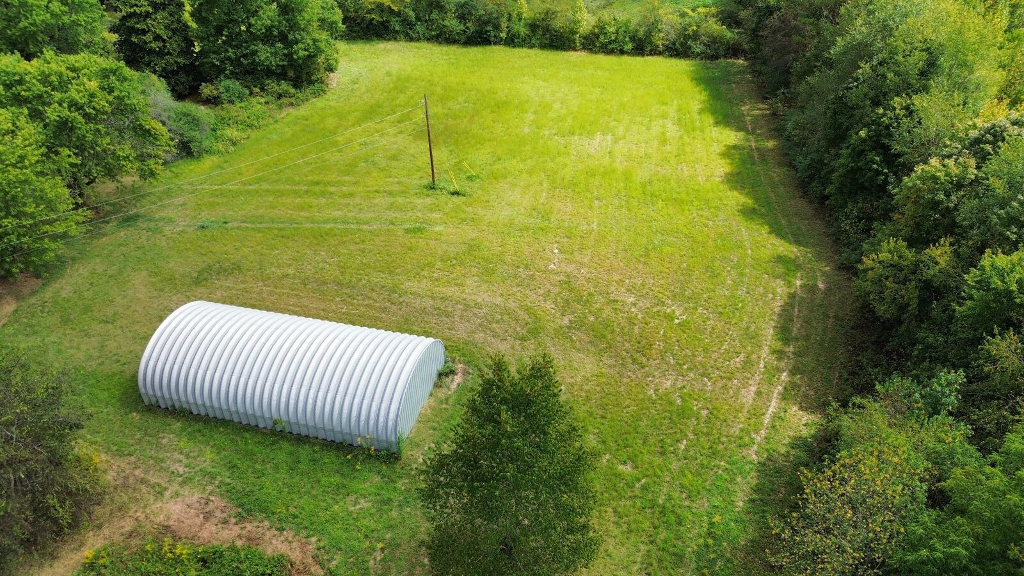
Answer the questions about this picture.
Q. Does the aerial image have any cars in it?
No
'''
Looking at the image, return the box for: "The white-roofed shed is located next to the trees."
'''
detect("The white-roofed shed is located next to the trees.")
[136,301,448,462]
